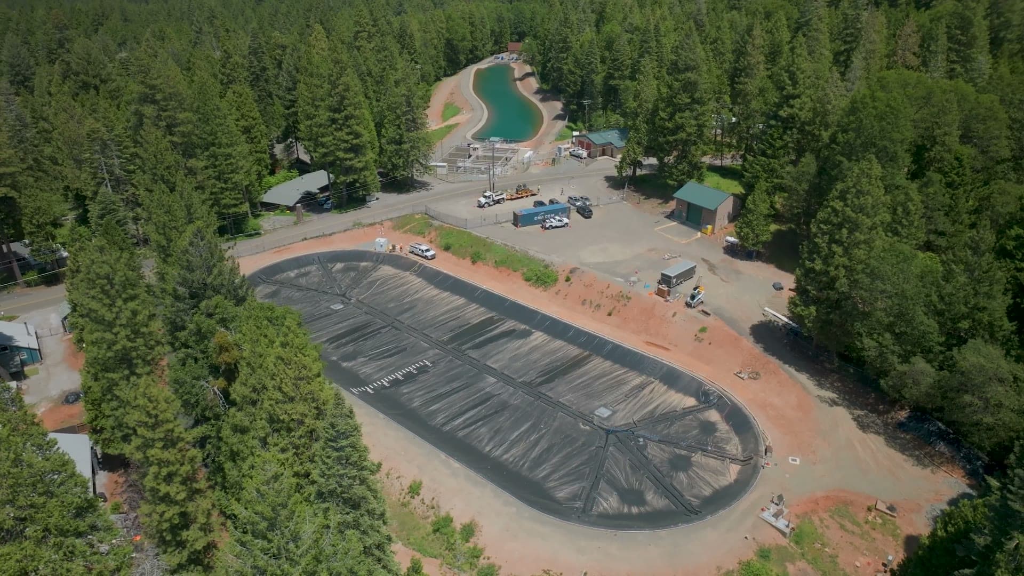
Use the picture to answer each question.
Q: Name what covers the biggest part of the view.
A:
trees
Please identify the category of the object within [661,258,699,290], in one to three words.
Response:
trailer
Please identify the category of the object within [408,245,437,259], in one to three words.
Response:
vehicle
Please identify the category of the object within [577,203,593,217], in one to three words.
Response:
car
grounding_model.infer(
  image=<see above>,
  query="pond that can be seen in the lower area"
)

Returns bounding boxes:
[246,248,768,535]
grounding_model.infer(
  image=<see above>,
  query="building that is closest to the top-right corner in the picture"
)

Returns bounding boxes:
[671,182,744,234]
